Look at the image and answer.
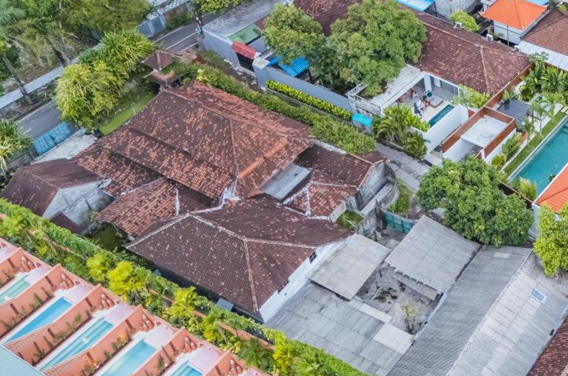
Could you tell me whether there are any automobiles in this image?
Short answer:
No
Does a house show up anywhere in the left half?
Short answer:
Yes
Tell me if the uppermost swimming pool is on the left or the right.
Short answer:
right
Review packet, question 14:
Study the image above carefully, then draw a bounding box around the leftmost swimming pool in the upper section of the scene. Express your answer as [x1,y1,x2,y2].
[428,105,453,128]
